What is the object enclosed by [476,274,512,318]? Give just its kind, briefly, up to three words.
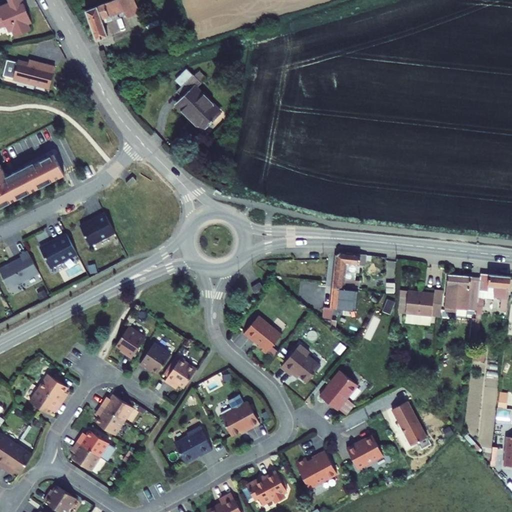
house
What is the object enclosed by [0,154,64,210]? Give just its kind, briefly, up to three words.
building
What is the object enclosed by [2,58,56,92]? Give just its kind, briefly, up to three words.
house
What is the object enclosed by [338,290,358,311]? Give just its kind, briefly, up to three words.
barn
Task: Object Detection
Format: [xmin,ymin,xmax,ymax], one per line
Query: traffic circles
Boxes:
[150,174,282,294]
